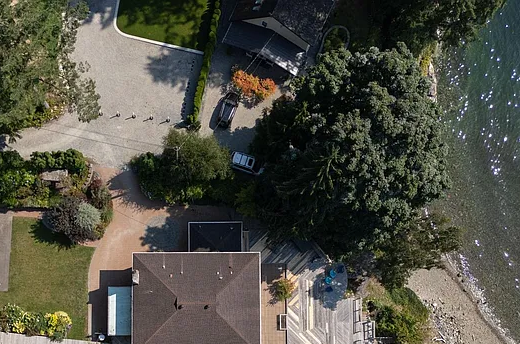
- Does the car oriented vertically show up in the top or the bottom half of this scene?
top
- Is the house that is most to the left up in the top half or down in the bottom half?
bottom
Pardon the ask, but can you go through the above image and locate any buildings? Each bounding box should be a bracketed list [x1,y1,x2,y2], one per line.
[221,0,331,83]
[132,221,262,344]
